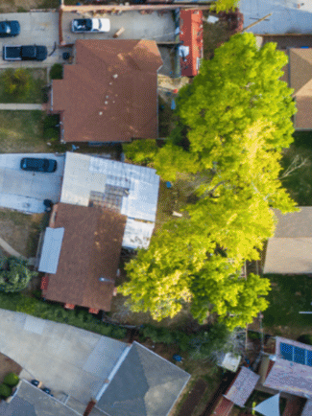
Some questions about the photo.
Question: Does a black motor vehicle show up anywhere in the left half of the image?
Yes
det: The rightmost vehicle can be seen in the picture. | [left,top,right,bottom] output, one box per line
[70,14,113,34]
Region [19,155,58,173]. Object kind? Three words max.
car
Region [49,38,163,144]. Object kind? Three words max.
house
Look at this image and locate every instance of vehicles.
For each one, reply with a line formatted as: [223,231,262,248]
[1,43,49,61]
[0,19,20,36]
[70,14,113,34]
[19,155,58,173]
